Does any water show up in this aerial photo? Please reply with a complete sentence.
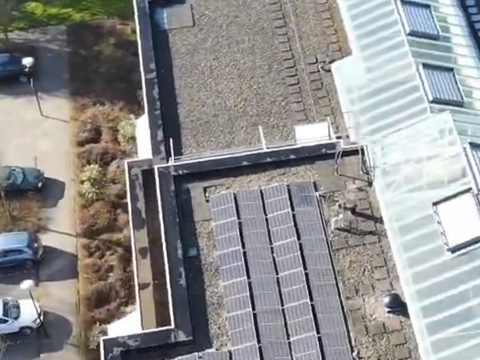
No, no water is visible.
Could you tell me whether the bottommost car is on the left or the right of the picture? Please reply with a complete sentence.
The bottommost car sits on the left side.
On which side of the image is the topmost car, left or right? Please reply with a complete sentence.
The topmost car sits on the left side.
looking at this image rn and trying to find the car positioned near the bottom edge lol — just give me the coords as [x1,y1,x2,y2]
[0,304,49,345]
